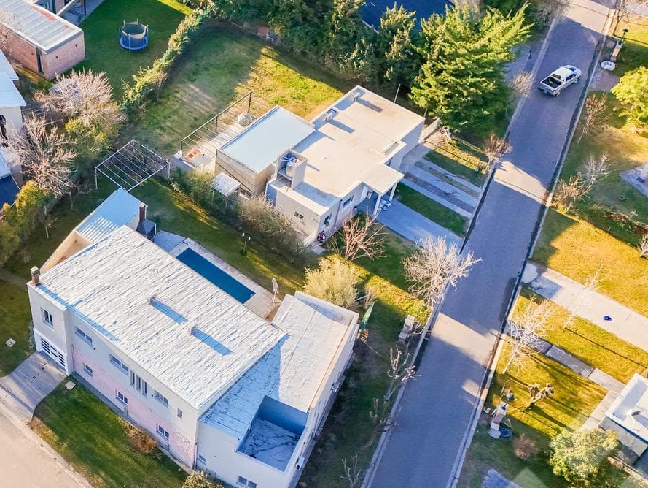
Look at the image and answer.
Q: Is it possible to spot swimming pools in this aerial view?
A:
Yes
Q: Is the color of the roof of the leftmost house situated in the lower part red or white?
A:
white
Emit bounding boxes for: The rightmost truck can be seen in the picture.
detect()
[542,70,585,99]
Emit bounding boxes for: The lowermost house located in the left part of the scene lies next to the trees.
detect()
[23,188,359,488]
